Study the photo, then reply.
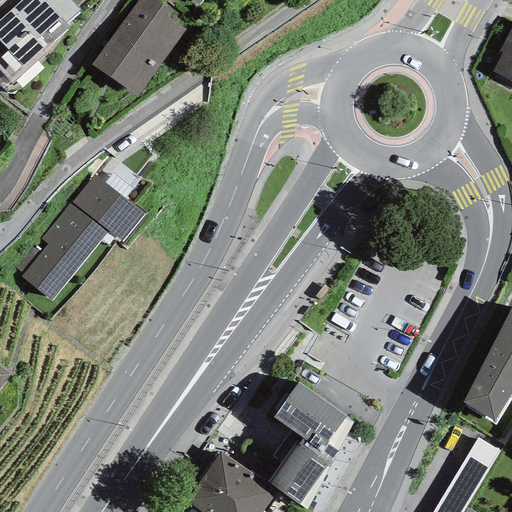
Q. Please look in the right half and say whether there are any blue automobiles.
Yes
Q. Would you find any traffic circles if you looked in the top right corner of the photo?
Yes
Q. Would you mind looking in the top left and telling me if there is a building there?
Yes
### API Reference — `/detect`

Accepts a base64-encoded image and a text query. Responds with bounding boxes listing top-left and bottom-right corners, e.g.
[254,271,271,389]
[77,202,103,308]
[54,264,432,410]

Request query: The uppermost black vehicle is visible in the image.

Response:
[201,219,216,244]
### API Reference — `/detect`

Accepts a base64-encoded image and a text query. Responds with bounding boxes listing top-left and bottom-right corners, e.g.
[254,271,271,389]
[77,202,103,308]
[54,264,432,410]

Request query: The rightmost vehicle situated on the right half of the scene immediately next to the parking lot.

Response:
[461,269,474,290]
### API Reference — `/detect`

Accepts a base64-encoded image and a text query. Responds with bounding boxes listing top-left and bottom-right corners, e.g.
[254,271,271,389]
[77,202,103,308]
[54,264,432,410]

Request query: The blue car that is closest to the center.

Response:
[350,279,373,296]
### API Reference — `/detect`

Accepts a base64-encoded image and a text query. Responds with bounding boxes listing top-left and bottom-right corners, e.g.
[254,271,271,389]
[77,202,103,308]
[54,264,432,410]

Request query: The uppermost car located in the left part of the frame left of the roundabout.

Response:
[115,135,136,152]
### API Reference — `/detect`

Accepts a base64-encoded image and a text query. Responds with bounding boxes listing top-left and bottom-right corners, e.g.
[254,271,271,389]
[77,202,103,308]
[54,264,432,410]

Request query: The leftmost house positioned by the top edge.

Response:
[0,0,82,84]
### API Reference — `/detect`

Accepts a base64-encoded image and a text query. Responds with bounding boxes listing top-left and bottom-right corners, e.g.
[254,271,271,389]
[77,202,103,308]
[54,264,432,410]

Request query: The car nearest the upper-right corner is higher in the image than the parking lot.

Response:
[402,54,423,70]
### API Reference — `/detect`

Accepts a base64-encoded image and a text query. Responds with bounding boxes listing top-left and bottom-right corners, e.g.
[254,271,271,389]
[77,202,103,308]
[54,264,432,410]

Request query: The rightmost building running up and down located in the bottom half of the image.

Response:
[464,314,512,426]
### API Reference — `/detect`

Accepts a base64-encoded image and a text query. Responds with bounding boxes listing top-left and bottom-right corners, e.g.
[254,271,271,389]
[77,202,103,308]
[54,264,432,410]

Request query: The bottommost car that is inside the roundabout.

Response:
[393,155,417,168]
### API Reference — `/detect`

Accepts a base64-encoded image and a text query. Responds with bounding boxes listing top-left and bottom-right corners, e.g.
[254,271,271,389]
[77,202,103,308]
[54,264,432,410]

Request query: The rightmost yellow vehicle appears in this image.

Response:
[446,426,463,452]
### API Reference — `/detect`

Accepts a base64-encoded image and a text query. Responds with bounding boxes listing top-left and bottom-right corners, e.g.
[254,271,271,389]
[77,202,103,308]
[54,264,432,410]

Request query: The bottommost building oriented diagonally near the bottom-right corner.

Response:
[432,437,501,512]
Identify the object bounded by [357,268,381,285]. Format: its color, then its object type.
black car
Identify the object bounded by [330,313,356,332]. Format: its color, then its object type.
white vehicle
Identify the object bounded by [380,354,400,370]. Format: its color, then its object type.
white car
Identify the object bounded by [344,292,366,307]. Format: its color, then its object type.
white car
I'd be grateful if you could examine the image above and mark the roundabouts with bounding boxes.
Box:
[321,32,469,180]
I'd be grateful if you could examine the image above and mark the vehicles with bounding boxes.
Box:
[357,268,381,285]
[393,155,417,168]
[384,342,406,356]
[461,269,474,290]
[350,279,373,296]
[338,302,359,318]
[203,413,220,434]
[330,313,356,332]
[362,258,385,274]
[300,368,322,386]
[222,385,241,408]
[344,292,366,307]
[390,316,417,335]
[402,54,423,70]
[390,330,412,346]
[115,135,136,152]
[201,219,216,244]
[408,294,430,312]
[421,354,436,375]
[380,354,400,370]
[446,426,463,452]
